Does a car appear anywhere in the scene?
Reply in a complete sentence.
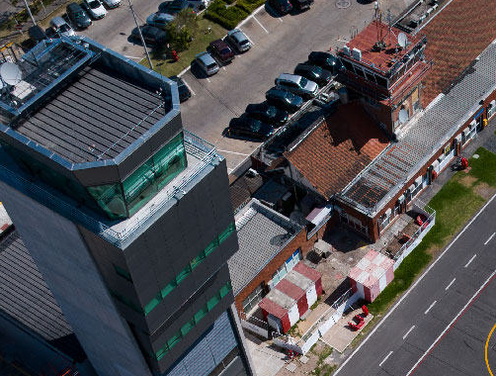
Yes, a car is visible in the scene.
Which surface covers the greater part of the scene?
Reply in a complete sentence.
The bulk of the photo consists of buildings.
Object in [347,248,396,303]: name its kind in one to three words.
shed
